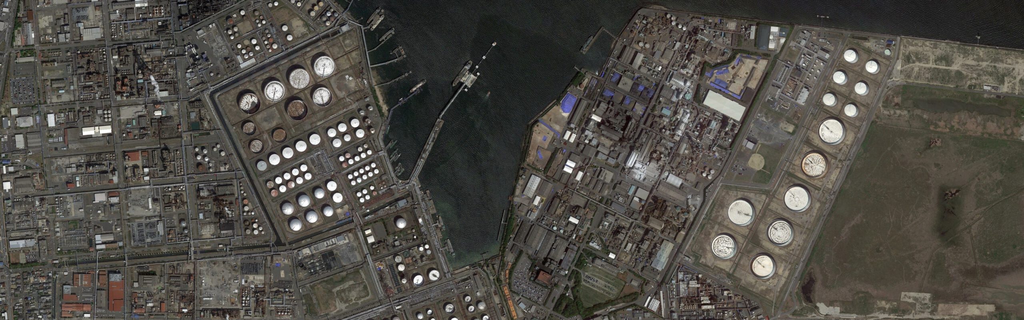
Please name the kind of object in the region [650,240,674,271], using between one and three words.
building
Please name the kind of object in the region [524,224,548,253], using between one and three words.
building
